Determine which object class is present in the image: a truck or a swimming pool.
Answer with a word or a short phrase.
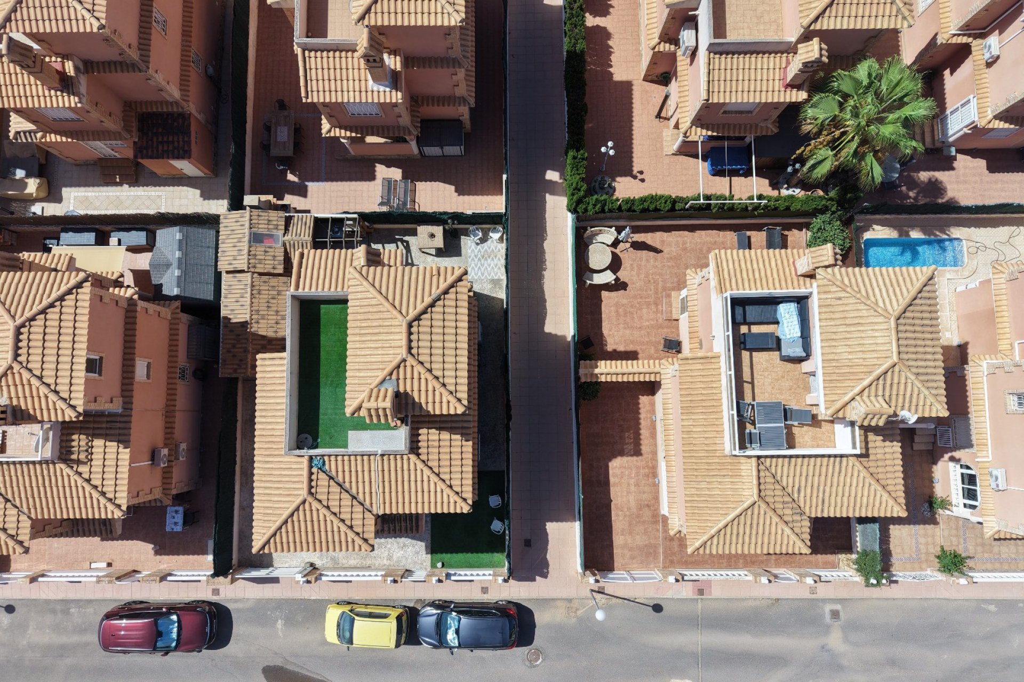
swimming pool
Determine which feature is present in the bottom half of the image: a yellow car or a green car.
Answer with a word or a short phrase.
yellow car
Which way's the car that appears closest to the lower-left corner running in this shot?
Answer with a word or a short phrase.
from left to right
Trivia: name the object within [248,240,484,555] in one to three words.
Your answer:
house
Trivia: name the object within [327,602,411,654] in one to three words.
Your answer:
car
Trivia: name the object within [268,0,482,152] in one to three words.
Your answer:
house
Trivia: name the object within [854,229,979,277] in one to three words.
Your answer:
swimming pool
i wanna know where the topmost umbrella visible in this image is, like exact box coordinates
[653,91,667,122]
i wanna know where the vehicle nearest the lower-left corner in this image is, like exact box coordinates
[96,602,221,662]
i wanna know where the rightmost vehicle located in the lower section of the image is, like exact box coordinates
[418,601,519,657]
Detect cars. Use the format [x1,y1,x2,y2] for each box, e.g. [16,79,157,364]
[418,601,519,657]
[327,602,411,654]
[96,602,221,662]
